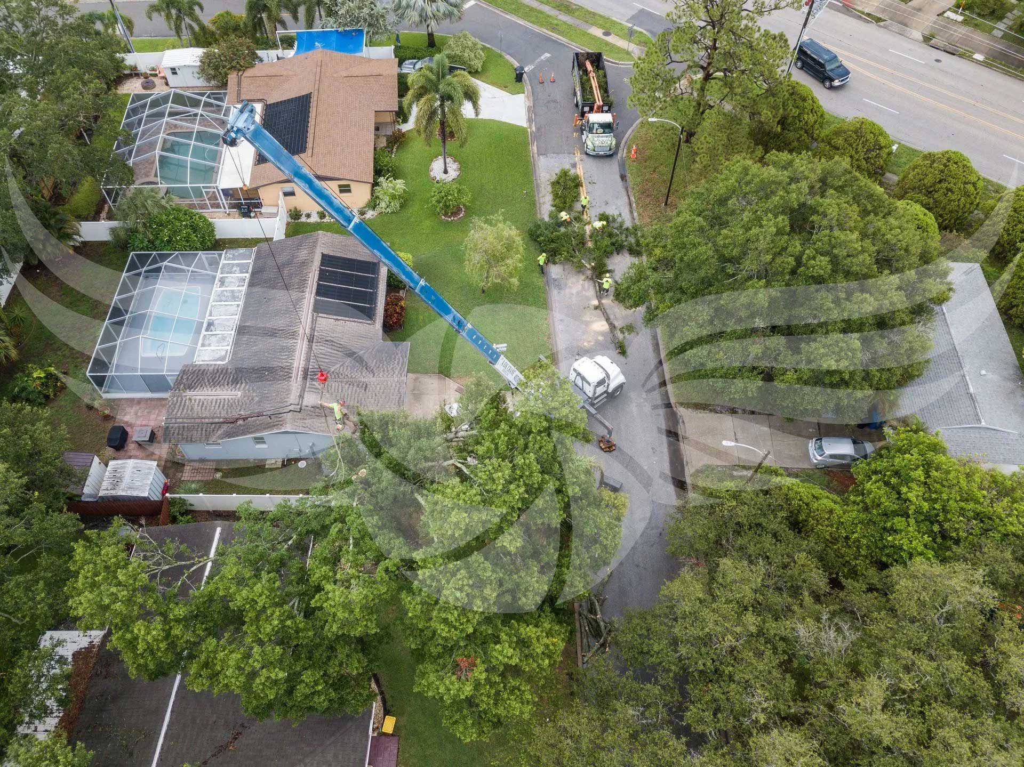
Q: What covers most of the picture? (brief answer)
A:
trees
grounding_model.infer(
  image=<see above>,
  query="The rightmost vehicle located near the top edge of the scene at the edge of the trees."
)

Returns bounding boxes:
[789,35,857,90]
